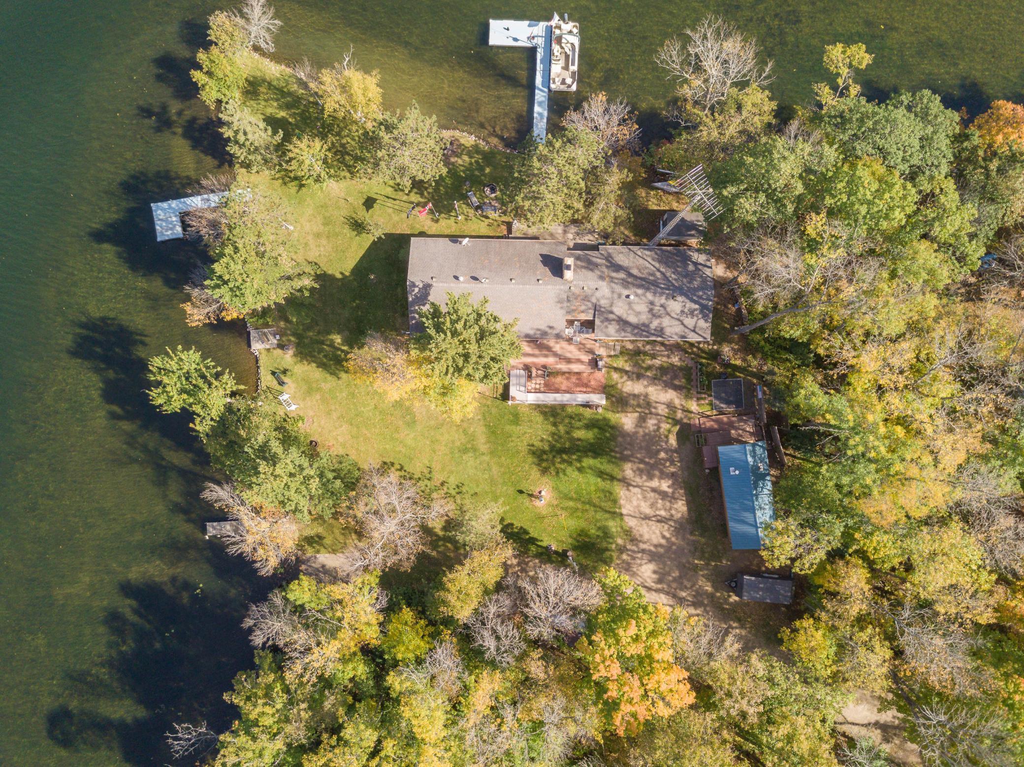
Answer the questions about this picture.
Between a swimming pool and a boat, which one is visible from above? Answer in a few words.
boat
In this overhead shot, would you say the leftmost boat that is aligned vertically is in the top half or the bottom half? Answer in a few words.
top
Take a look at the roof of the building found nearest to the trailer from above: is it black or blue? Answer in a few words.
blue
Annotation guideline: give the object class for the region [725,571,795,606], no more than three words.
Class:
trailer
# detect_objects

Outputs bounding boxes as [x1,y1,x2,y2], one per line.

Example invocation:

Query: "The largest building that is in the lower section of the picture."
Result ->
[716,440,780,550]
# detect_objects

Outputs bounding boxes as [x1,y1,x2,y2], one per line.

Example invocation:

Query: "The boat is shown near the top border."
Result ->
[549,11,580,94]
